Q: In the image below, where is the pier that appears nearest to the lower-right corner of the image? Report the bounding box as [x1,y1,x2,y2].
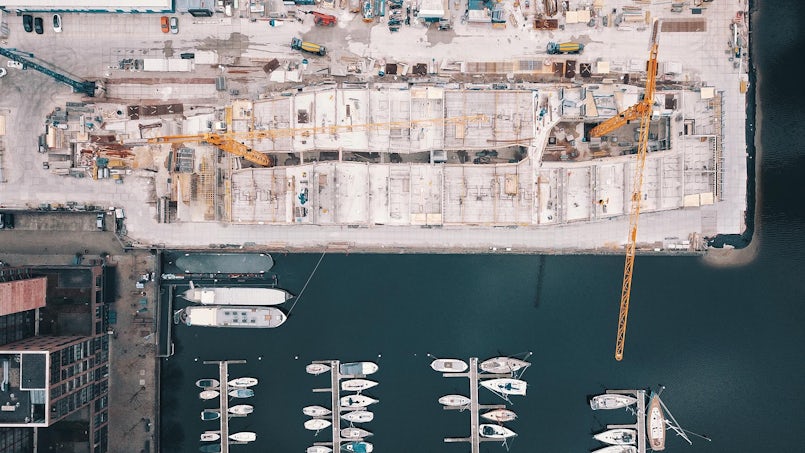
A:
[605,388,649,453]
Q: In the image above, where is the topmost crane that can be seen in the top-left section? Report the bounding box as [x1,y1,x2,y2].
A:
[0,38,107,100]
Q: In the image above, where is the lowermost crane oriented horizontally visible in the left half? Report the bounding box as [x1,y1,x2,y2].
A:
[145,114,490,165]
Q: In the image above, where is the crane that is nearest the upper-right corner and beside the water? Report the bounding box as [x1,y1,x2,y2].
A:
[579,20,662,362]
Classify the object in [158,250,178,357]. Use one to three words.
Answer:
pier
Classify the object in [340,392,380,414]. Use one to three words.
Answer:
boat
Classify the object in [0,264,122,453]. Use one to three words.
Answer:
building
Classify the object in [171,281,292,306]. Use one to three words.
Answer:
ship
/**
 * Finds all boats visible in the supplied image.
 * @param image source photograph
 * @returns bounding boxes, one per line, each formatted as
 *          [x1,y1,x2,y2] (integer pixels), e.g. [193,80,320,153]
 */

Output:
[478,424,518,449]
[200,411,220,421]
[175,307,286,329]
[303,419,332,438]
[341,378,379,398]
[430,357,469,372]
[340,427,375,448]
[227,377,259,392]
[199,389,219,403]
[303,406,332,424]
[228,431,257,449]
[340,392,380,414]
[306,363,331,378]
[439,394,472,413]
[480,408,518,431]
[340,411,374,432]
[588,393,638,418]
[645,390,688,451]
[200,432,220,442]
[199,443,220,453]
[227,404,255,421]
[338,361,379,376]
[228,389,255,399]
[479,378,528,405]
[592,428,638,453]
[197,378,220,387]
[479,357,531,381]
[340,440,374,453]
[307,445,333,453]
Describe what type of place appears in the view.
port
